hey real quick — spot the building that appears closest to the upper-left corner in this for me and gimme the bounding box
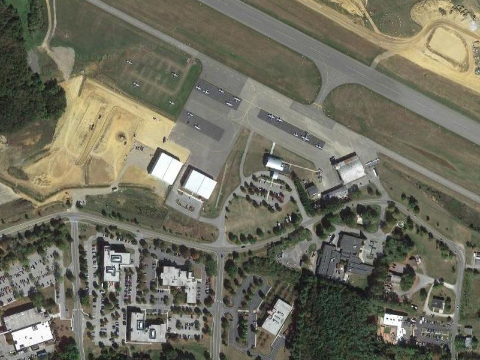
[152,152,183,185]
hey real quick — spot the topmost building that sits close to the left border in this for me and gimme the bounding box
[3,308,40,332]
